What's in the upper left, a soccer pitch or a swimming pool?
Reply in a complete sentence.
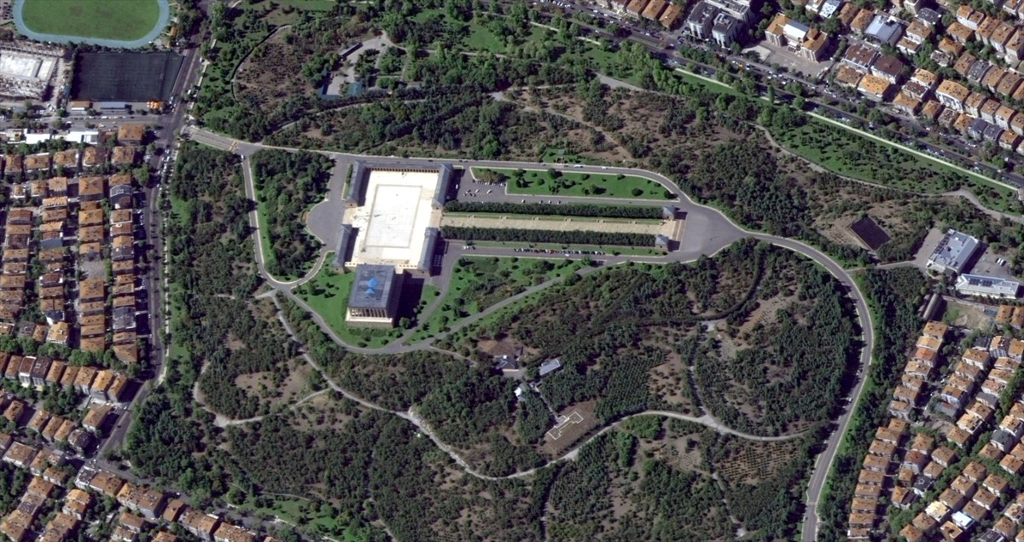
The one visible in the upper left is a soccer pitch.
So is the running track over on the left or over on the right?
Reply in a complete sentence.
The running track is on the left side of the image.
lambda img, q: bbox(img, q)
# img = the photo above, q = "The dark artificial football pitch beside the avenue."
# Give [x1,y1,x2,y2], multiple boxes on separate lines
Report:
[71,53,183,101]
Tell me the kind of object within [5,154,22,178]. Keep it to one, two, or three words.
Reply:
building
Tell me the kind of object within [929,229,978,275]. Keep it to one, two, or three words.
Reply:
building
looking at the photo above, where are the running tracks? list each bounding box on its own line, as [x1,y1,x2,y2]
[13,0,169,47]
